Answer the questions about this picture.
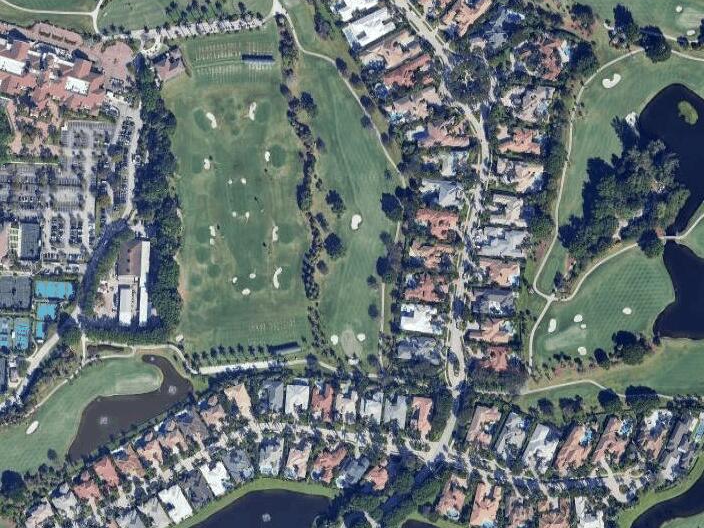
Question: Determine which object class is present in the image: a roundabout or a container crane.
roundabout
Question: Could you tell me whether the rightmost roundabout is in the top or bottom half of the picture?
top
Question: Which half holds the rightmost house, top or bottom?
bottom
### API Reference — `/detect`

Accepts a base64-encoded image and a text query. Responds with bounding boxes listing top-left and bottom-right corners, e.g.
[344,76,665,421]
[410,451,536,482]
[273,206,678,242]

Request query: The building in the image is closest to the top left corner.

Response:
[0,37,108,109]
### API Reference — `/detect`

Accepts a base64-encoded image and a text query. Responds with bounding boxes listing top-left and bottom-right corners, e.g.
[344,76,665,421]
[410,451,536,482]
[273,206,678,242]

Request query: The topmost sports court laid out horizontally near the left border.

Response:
[35,281,73,298]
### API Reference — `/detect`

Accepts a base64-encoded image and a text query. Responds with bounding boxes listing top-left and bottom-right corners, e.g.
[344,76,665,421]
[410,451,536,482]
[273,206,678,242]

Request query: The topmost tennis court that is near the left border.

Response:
[21,223,41,259]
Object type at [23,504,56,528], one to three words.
house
